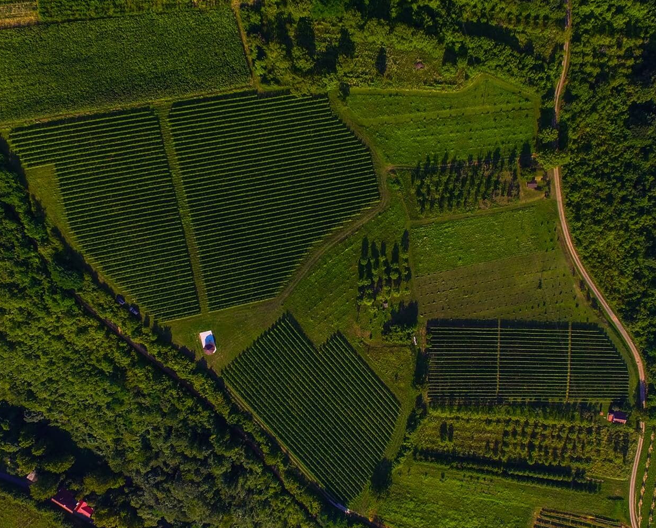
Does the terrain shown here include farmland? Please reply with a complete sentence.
Yes, some farmland is visible.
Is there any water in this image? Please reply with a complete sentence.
No, there's no water in this view.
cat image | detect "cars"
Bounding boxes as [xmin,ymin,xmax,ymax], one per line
[129,306,138,314]
[117,297,126,305]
